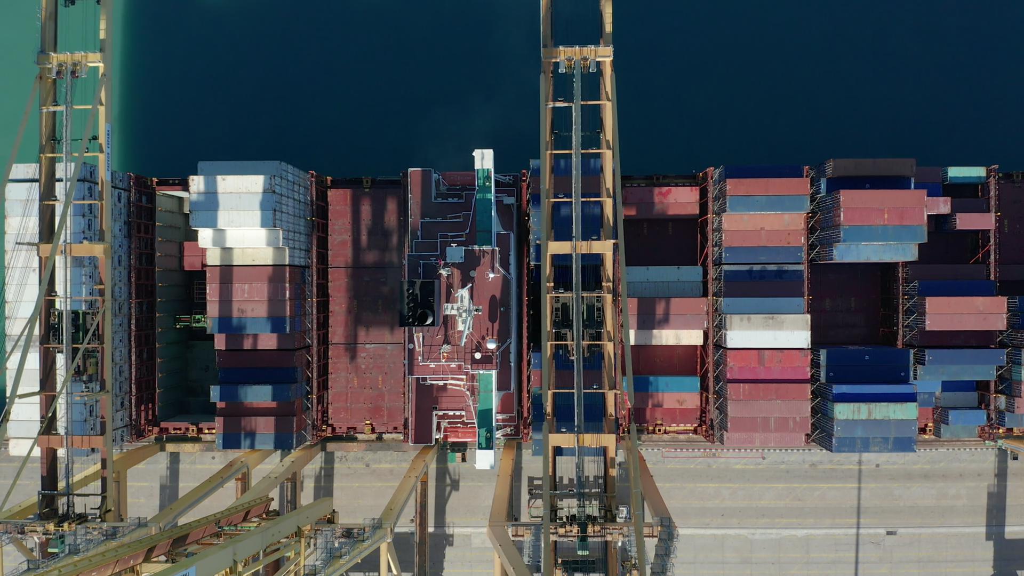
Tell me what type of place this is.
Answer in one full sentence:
What you see here is a port.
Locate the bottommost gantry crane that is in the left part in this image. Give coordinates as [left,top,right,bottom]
[42,437,464,576]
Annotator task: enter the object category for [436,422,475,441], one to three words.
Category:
boat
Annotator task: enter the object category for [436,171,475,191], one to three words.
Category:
boat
